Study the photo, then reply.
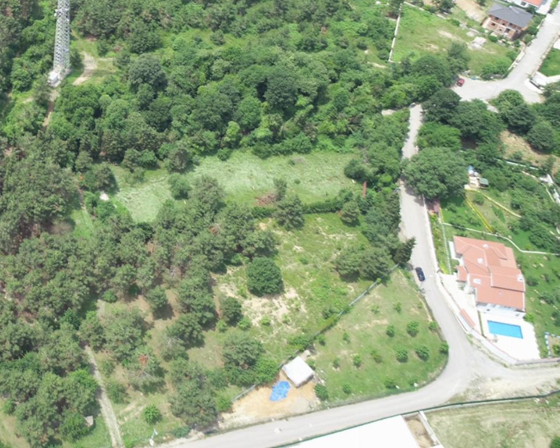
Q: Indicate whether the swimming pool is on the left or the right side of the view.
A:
right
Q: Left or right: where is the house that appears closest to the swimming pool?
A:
right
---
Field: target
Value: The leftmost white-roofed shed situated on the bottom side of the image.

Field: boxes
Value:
[281,356,316,390]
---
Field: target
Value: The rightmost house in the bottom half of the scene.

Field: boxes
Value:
[448,236,528,319]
